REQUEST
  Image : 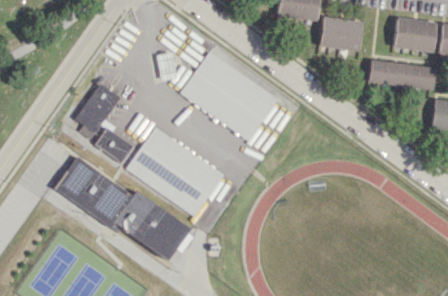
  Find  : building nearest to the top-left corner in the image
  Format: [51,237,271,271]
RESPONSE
[78,85,120,137]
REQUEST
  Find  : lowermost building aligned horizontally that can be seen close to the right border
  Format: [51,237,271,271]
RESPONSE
[369,61,437,93]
